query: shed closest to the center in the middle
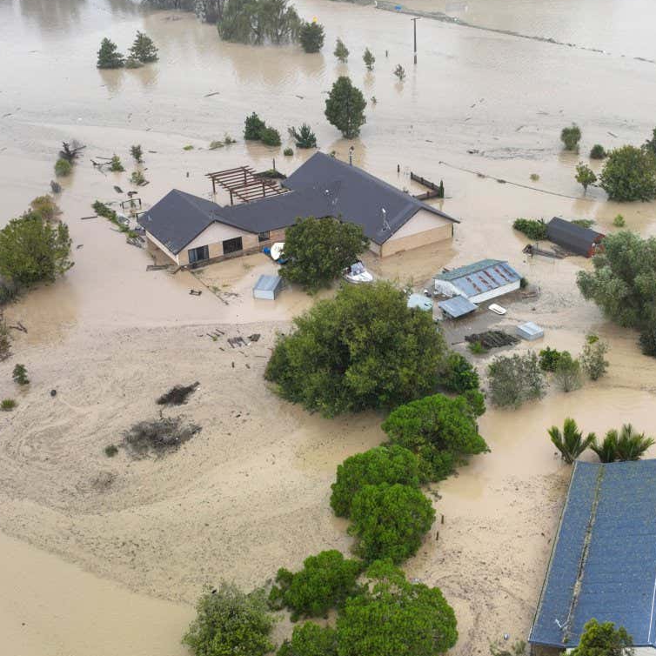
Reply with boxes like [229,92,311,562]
[250,271,284,298]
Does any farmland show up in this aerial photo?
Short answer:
No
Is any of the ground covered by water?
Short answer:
Yes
